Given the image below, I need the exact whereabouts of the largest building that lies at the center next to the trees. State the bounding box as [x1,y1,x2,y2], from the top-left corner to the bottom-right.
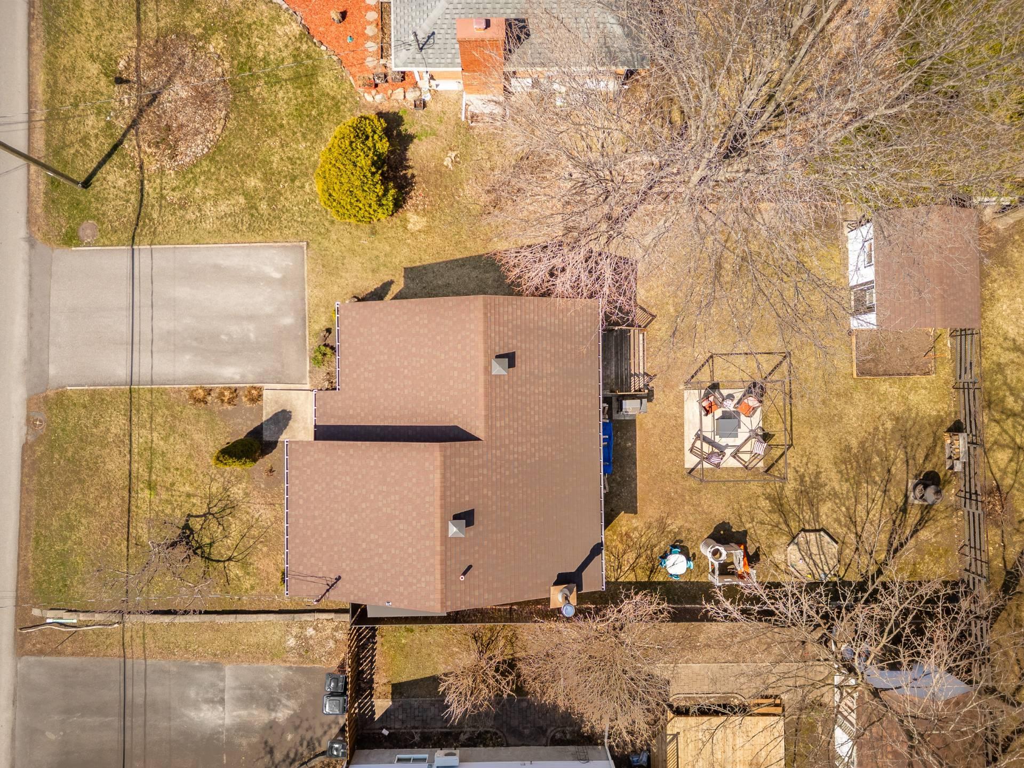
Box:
[283,294,606,626]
